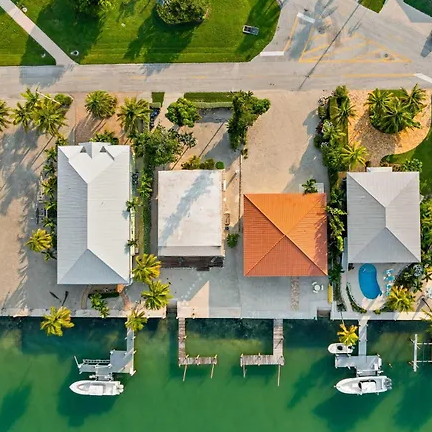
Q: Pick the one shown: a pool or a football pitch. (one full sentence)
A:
Visible in the photo is a pool.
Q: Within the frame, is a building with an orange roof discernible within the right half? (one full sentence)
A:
Yes, you'll find a building with an orange roof within the right half.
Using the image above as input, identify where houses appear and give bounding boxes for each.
[57,144,145,284]
[242,193,327,278]
[157,170,224,271]
[345,167,420,262]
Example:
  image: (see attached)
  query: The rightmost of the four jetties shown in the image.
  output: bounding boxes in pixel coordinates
[334,313,382,377]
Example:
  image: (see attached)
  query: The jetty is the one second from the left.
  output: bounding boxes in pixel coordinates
[177,314,217,379]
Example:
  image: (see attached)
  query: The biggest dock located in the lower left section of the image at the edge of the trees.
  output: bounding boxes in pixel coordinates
[74,313,137,377]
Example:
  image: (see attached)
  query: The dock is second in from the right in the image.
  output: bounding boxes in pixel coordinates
[241,314,284,380]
